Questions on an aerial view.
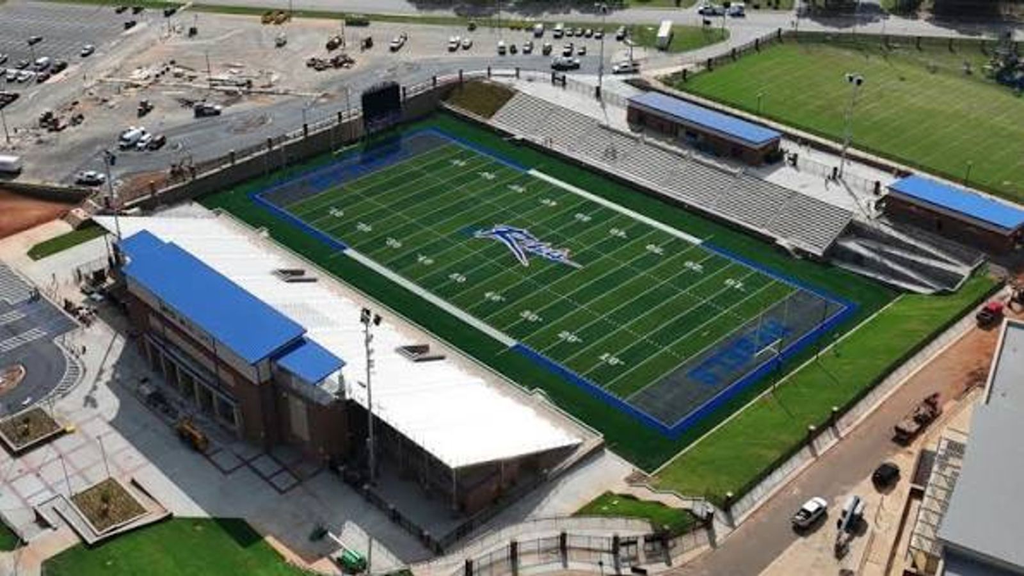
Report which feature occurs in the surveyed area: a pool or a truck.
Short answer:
truck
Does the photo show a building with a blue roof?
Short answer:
Yes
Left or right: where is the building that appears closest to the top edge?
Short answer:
right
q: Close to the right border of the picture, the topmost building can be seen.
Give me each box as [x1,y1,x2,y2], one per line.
[892,167,1024,251]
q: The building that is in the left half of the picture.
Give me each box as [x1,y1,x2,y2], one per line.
[114,232,368,469]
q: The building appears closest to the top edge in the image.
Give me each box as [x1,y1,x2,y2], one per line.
[630,85,785,160]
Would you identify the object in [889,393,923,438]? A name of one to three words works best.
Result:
work vehicle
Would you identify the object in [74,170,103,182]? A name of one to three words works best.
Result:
vehicle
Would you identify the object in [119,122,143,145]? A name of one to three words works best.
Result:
truck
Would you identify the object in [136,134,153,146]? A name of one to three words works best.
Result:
vehicle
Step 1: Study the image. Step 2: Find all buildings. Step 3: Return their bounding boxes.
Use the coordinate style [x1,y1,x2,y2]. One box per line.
[630,85,785,160]
[892,167,1024,251]
[114,232,368,469]
[929,314,1024,576]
